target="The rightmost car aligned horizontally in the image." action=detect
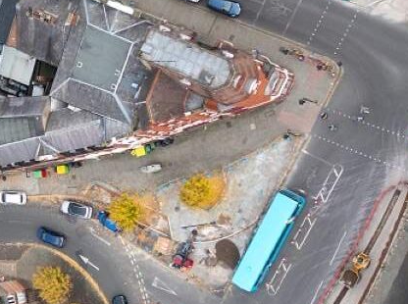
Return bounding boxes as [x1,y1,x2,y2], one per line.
[205,0,244,20]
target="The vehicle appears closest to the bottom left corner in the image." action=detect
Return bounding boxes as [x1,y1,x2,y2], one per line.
[37,226,67,246]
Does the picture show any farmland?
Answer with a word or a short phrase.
No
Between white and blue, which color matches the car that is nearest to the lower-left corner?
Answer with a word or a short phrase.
blue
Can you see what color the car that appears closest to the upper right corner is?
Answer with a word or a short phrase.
blue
